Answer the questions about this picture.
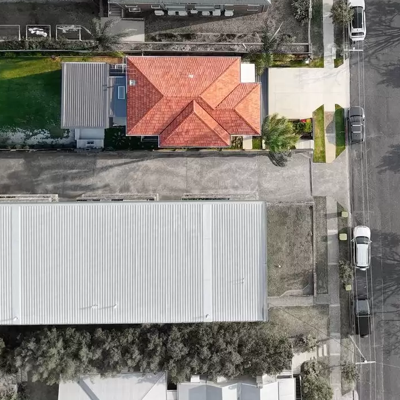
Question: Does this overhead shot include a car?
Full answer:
Yes, looking at the shot, I can spot a car.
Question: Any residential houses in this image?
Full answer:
Yes, you can see a residential house in this photo.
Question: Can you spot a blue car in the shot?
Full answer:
No, there's no blue car here.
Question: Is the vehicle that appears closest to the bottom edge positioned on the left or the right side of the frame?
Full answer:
You can find the vehicle that appears closest to the bottom edge on the right side of the picture.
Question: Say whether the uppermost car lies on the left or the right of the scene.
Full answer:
It is on the right.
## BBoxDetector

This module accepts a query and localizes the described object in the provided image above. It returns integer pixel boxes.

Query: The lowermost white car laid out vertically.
[352,223,373,272]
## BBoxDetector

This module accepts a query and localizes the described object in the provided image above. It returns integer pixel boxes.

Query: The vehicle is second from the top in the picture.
[346,103,367,146]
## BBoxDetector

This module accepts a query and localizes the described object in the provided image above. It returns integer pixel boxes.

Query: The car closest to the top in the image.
[348,0,368,42]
